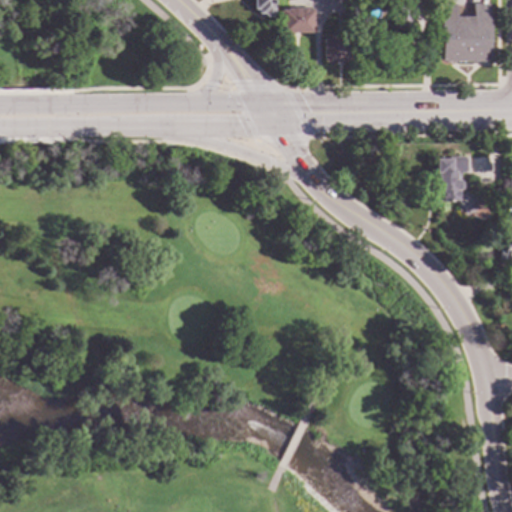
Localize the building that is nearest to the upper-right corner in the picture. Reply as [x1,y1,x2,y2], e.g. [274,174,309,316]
[446,1,496,62]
